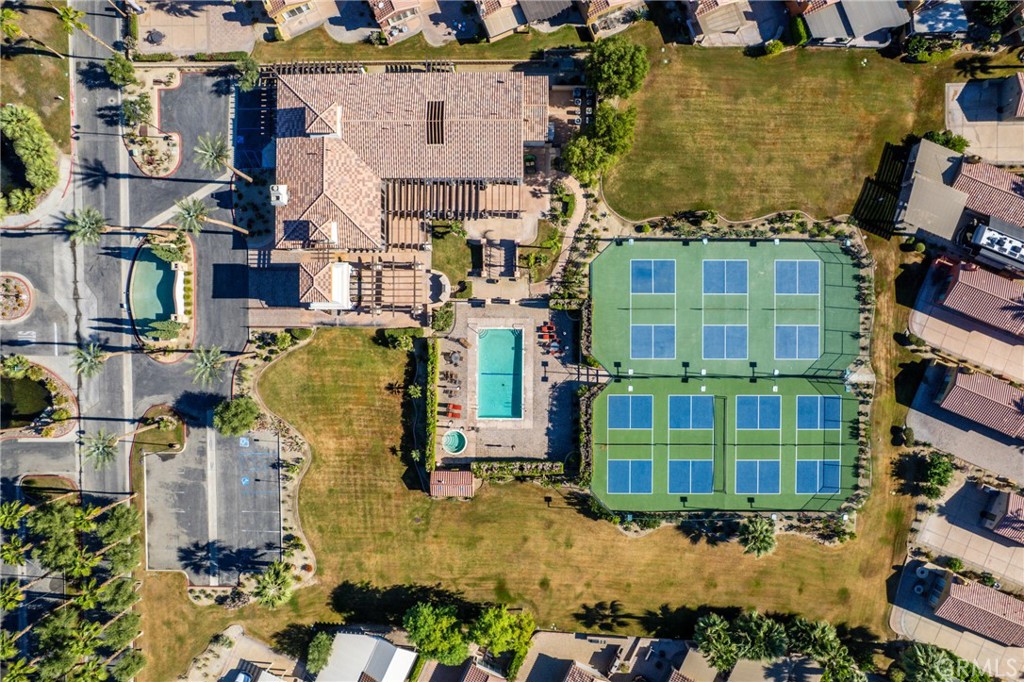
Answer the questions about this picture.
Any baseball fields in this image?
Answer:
No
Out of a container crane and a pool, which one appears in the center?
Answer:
pool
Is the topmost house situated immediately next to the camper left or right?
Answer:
right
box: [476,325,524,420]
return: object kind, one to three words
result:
swimming pool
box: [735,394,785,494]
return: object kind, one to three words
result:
sports court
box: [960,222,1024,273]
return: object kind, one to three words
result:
camper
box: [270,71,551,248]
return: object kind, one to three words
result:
building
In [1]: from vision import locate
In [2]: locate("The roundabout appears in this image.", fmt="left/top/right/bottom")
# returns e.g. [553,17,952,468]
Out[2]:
[0,271,35,325]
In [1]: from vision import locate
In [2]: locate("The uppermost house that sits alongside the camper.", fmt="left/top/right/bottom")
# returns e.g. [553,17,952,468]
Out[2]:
[946,136,1024,222]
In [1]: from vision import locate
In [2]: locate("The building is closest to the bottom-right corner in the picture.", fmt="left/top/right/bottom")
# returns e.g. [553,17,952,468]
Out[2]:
[926,563,1024,649]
